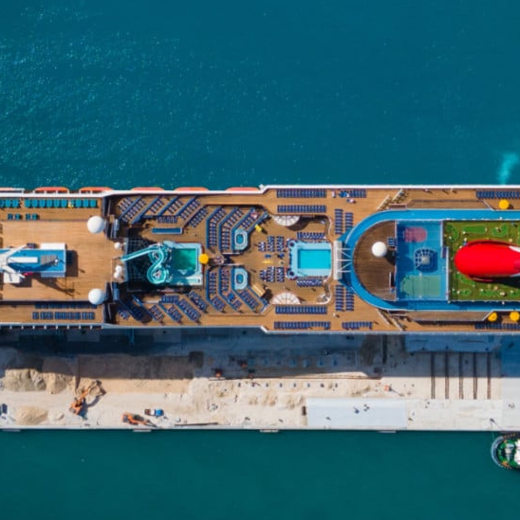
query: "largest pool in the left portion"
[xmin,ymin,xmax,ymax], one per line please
[164,241,201,286]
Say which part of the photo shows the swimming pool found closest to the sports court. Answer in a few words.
center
